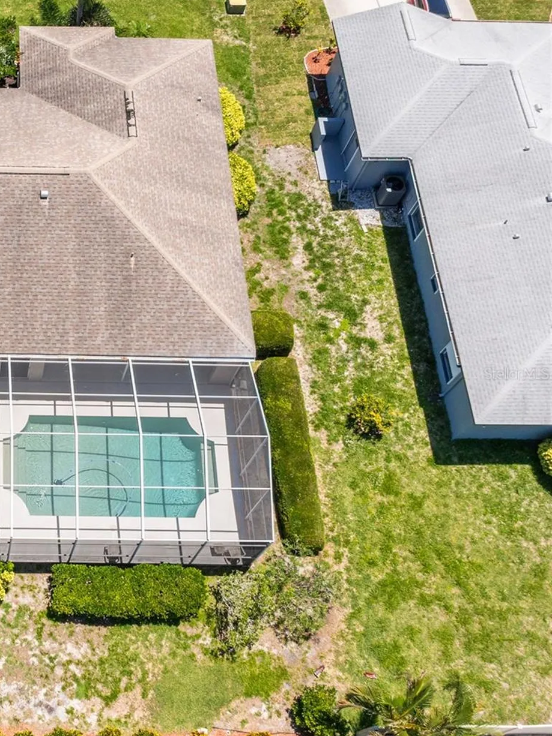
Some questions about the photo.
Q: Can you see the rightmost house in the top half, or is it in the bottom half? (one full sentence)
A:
The top half of the photo is where the rightmost house is.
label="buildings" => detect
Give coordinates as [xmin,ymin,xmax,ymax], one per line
[322,0,552,449]
[0,25,257,392]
